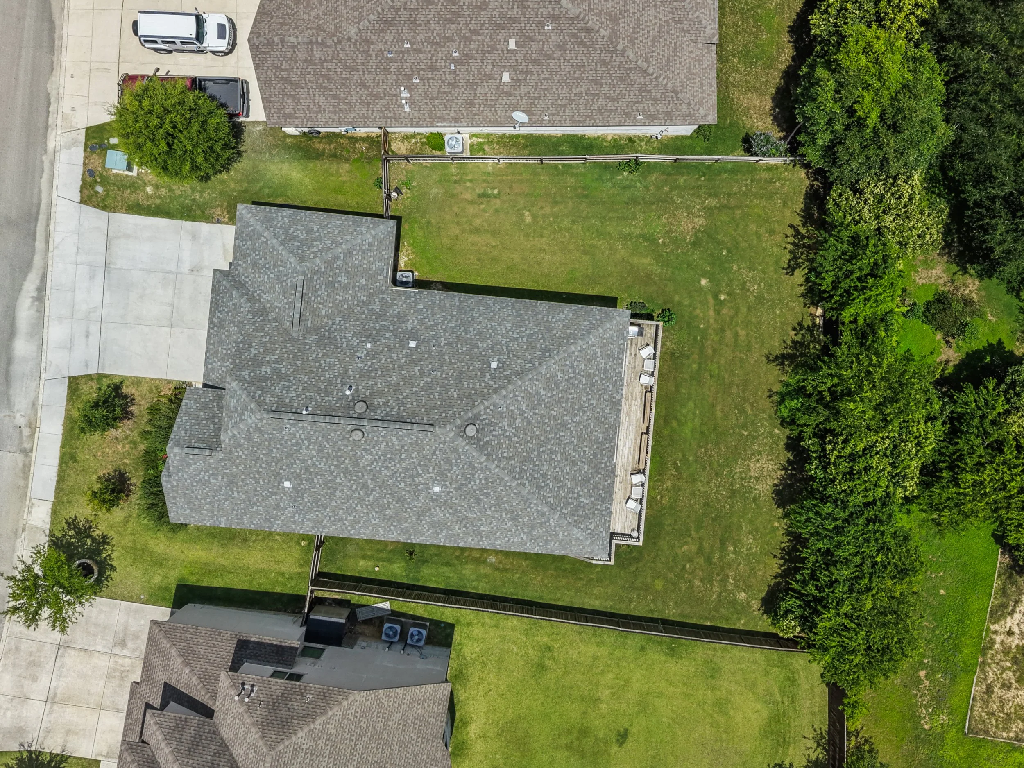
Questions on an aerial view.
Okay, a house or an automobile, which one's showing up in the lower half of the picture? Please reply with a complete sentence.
What appears in the lower half of the picture is a house.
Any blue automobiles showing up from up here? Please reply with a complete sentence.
No, no blue automobile is visible in the view.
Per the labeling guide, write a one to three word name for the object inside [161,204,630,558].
house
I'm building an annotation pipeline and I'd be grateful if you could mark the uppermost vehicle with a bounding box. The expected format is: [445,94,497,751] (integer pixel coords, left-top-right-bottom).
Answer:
[133,6,240,63]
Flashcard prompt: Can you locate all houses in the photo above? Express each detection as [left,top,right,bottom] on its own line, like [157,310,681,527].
[118,604,453,768]
[248,0,719,138]
[161,204,630,558]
